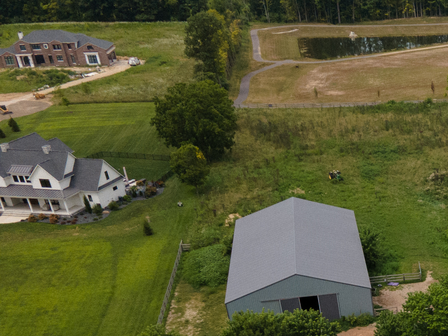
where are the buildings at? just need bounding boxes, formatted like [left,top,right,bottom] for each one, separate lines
[0,129,126,218]
[225,197,374,332]
[0,25,127,68]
